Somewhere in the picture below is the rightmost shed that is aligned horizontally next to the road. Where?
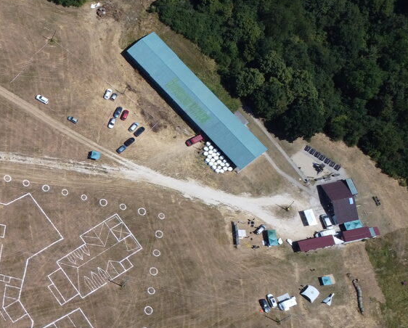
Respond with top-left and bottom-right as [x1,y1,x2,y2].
[339,226,381,243]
